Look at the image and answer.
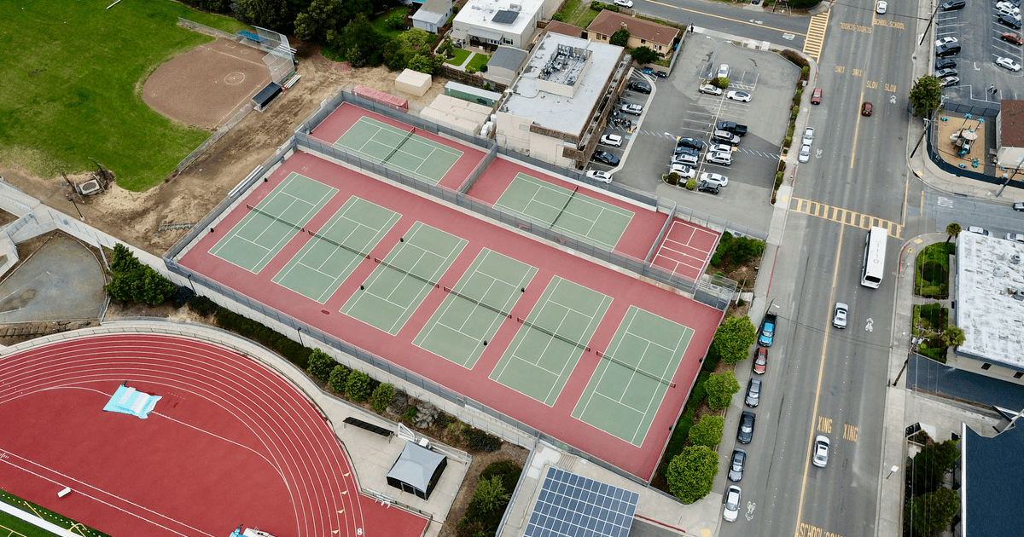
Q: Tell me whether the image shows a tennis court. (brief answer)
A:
Yes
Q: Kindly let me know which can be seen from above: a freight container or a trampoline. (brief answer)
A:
freight container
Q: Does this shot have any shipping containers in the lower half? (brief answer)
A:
No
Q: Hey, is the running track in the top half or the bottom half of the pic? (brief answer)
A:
bottom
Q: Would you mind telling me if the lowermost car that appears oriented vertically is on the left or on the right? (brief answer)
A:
right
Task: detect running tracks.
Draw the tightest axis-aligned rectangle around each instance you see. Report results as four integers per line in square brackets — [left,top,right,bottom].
[0,331,429,537]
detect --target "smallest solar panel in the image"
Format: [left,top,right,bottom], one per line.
[492,9,519,24]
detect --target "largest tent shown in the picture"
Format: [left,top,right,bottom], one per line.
[387,441,447,501]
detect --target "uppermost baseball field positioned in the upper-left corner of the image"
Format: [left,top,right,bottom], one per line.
[0,0,286,193]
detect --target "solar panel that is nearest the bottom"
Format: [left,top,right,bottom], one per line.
[524,468,639,537]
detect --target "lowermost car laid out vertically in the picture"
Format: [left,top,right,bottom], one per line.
[722,485,742,521]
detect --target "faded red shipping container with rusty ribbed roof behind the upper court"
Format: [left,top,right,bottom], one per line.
[352,85,409,111]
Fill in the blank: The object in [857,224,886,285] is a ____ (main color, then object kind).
white bus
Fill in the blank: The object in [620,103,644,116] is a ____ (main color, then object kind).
gray vehicle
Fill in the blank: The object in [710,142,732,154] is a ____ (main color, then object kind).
white vehicle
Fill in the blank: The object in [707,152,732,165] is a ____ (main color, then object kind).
white vehicle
